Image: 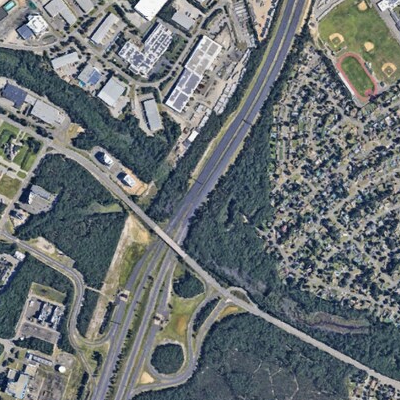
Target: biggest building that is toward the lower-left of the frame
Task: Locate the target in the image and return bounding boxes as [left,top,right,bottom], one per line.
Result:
[6,375,29,399]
